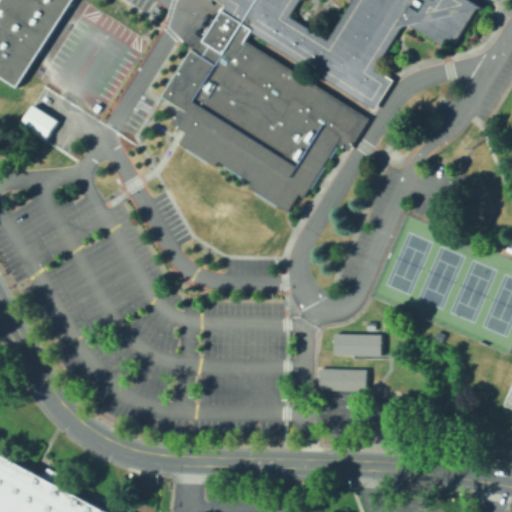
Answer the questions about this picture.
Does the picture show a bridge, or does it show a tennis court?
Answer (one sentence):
There is a tennis court in the scene.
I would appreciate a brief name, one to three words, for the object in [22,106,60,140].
shed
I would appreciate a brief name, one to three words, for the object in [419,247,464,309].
tennis court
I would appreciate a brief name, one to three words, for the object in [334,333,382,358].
building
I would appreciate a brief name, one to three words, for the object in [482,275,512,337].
tennis court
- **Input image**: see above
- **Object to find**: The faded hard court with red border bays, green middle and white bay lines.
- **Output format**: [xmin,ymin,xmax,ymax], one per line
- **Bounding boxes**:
[46,3,148,123]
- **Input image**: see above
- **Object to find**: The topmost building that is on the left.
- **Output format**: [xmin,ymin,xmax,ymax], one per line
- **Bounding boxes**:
[0,0,72,88]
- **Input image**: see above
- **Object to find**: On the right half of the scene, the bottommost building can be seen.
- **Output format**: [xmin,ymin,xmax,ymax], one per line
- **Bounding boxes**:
[318,368,368,391]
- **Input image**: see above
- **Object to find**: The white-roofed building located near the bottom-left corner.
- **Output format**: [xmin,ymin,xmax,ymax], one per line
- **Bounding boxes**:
[0,454,106,512]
